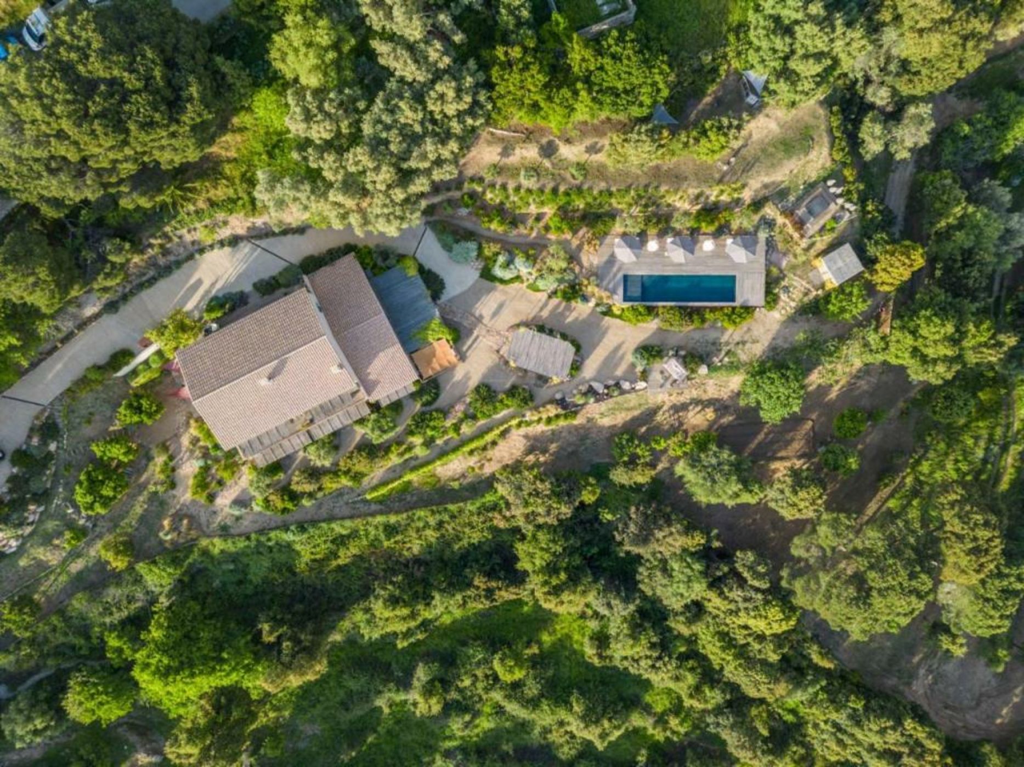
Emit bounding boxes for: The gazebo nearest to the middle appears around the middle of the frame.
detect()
[507,328,575,380]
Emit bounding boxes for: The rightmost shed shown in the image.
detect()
[813,243,864,287]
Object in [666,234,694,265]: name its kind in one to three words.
umbrella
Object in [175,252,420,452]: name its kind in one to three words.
house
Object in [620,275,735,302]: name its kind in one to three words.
swimming pool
